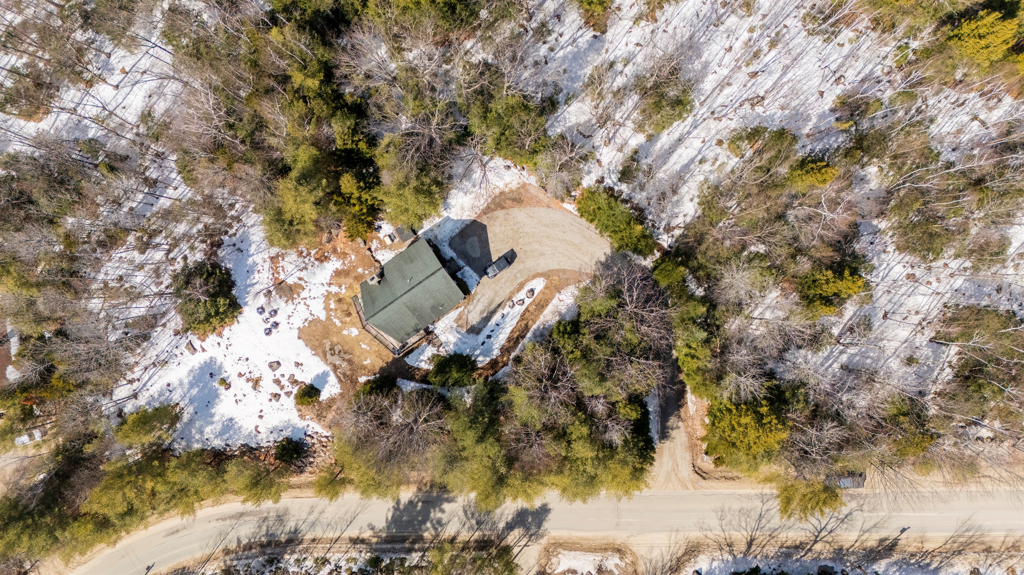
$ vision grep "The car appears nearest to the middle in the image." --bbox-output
[485,253,512,276]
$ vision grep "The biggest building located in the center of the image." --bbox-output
[361,239,466,343]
